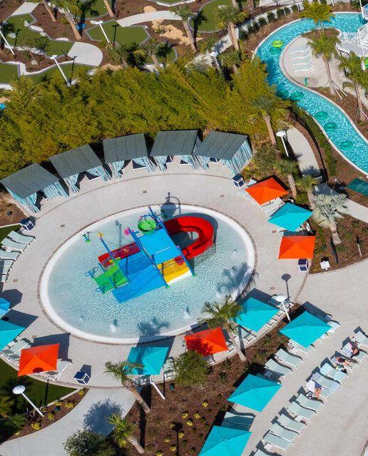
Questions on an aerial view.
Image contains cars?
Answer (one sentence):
No, the scene contains no car.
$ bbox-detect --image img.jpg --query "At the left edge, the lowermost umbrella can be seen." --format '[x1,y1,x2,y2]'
[16,342,60,379]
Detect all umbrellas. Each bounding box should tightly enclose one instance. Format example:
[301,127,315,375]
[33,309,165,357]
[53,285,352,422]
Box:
[16,342,60,379]
[123,347,170,380]
[268,203,312,233]
[0,318,28,355]
[227,373,282,414]
[184,326,227,362]
[245,177,288,211]
[280,236,317,260]
[230,297,278,333]
[281,311,332,350]
[200,425,252,456]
